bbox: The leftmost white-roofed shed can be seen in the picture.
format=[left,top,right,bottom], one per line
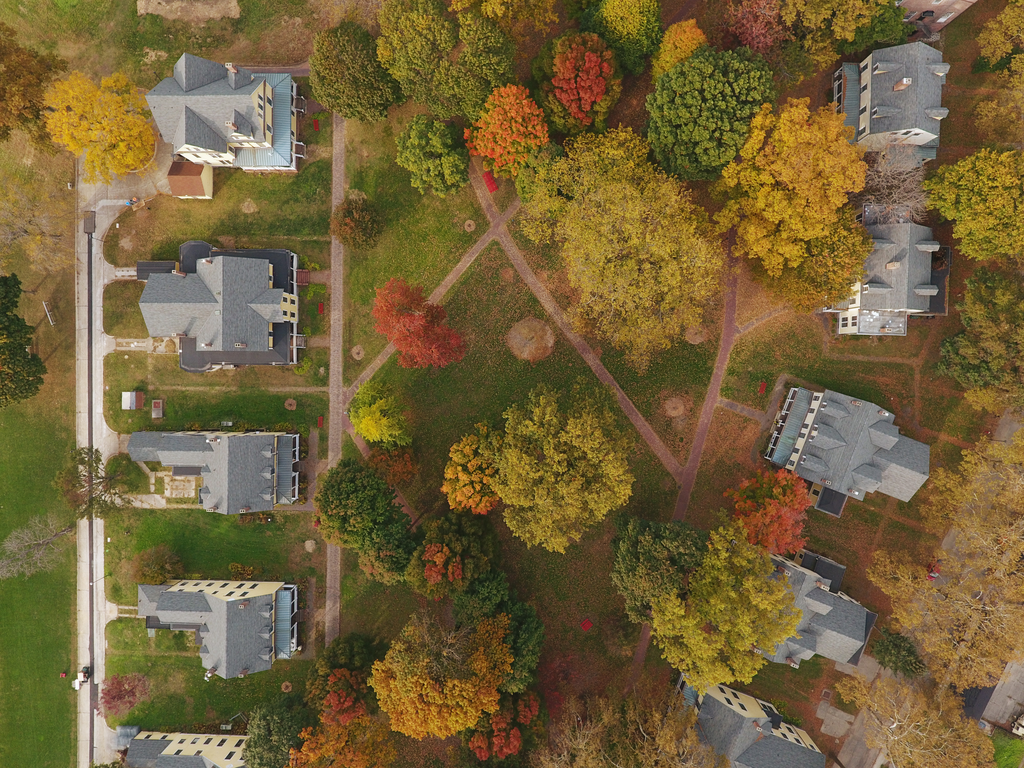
[122,392,143,410]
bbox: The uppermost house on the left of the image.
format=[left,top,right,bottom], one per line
[145,52,307,171]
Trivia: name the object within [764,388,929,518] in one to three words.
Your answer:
house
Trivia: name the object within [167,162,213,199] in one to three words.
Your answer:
building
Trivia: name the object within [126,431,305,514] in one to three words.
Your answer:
house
